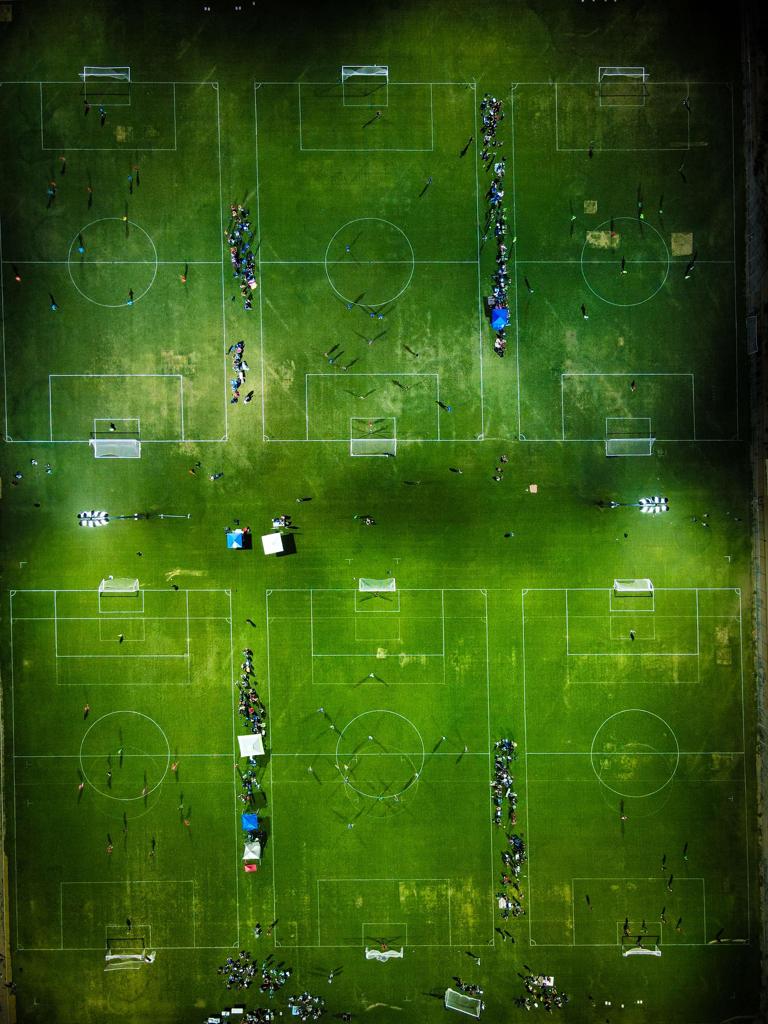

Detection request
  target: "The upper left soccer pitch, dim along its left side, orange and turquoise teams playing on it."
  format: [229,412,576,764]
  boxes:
[0,83,227,441]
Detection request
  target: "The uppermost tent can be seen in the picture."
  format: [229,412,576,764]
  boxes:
[490,309,508,332]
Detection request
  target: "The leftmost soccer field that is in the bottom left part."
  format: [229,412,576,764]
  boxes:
[11,590,239,949]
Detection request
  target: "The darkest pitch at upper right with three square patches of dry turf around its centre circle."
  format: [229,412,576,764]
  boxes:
[513,83,739,440]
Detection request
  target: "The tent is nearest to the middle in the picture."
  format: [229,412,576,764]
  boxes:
[262,533,286,554]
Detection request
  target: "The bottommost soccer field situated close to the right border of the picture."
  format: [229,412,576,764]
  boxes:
[523,588,749,946]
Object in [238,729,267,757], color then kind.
white tent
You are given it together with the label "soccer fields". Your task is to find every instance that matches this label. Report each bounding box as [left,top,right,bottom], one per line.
[513,83,739,440]
[0,83,227,441]
[523,588,749,946]
[267,589,494,947]
[256,83,483,440]
[11,590,239,949]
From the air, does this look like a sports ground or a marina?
sports ground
